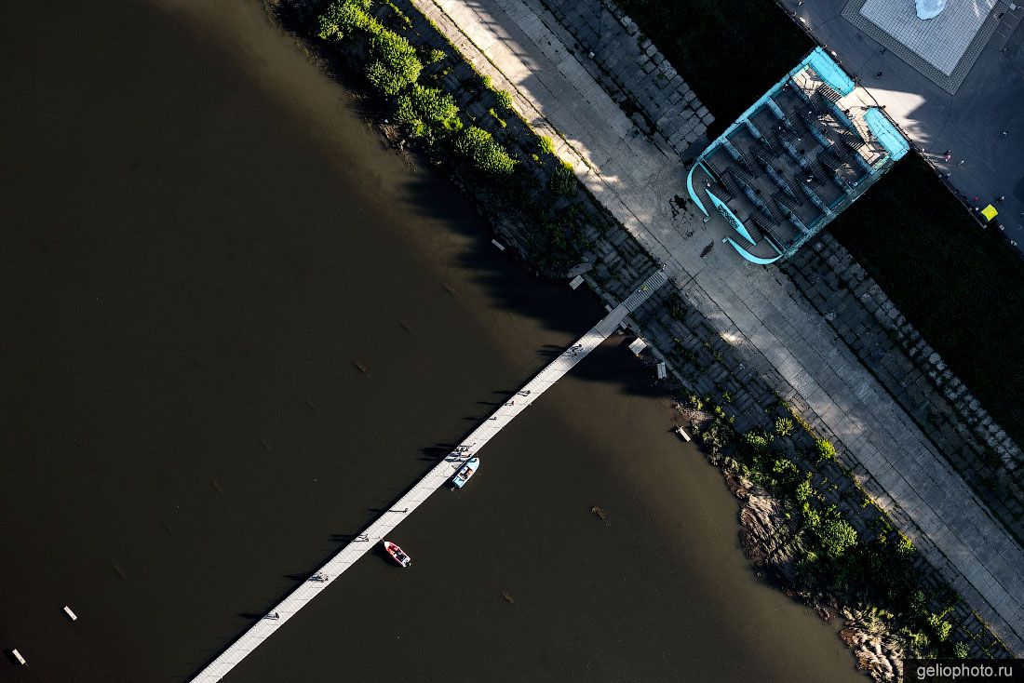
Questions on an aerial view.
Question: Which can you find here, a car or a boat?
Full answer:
Of the two, only a boat appears.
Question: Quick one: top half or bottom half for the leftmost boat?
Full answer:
The leftmost boat is in the bottom half of the image.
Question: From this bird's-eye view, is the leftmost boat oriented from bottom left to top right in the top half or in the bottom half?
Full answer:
You can find the leftmost boat oriented from bottom left to top right in the bottom half.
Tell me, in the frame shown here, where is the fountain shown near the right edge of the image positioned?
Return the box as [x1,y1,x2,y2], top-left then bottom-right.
[833,0,1024,103]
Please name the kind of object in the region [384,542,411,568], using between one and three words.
boat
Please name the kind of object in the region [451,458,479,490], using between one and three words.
boat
